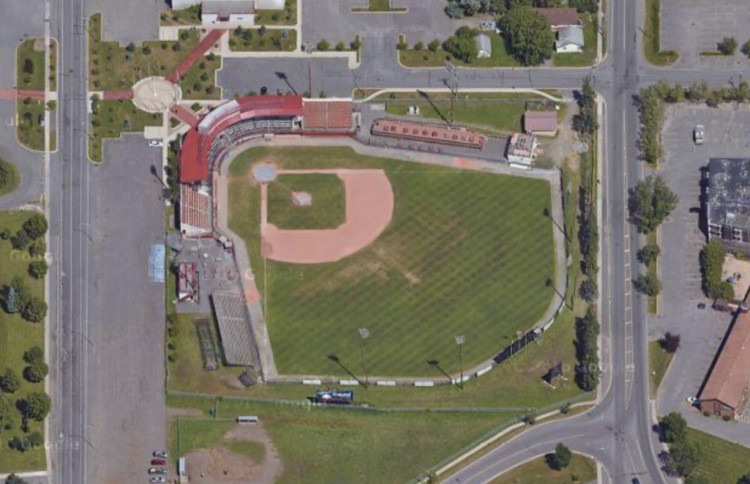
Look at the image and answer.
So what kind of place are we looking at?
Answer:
sports ground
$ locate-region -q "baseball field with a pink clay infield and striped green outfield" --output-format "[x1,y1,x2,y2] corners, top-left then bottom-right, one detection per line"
[212,136,568,381]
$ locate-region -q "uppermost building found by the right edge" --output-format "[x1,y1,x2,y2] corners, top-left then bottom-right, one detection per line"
[705,158,750,239]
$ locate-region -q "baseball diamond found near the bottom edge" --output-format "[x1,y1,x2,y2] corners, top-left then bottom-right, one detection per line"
[179,409,521,484]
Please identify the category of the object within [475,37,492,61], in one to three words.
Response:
shed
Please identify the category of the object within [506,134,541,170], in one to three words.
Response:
building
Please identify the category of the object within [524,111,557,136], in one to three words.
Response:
building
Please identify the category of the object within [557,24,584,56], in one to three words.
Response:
house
